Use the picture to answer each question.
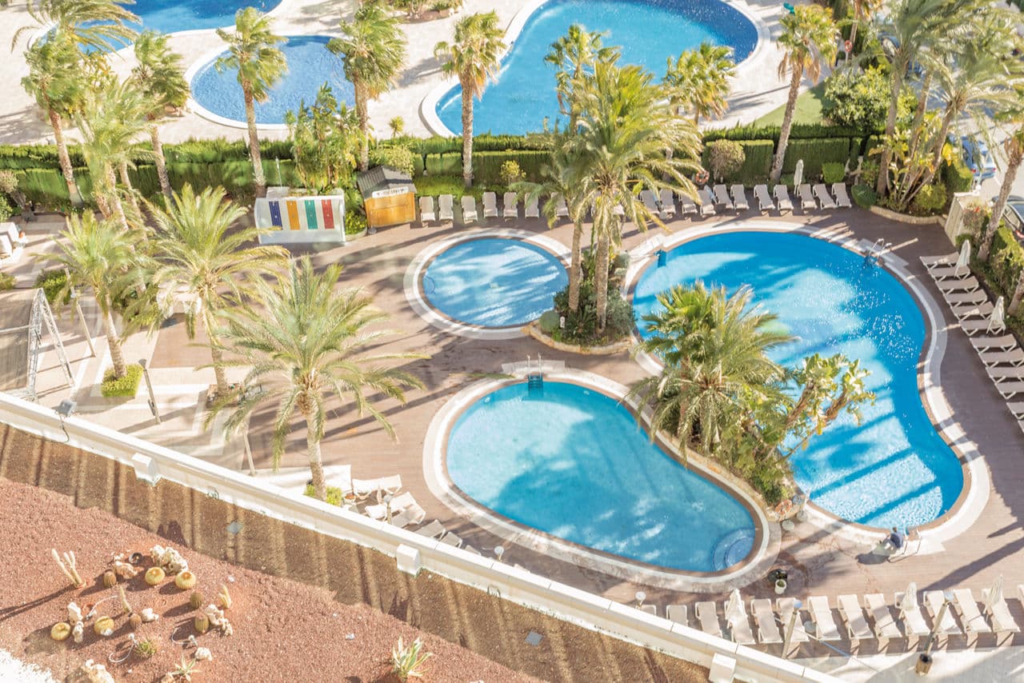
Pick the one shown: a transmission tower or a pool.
pool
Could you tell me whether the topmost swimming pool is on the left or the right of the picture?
left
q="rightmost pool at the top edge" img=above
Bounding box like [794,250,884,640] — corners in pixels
[436,0,757,127]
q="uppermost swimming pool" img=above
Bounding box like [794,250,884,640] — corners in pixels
[47,0,280,54]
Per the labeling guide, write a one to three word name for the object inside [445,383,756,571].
swimming pool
